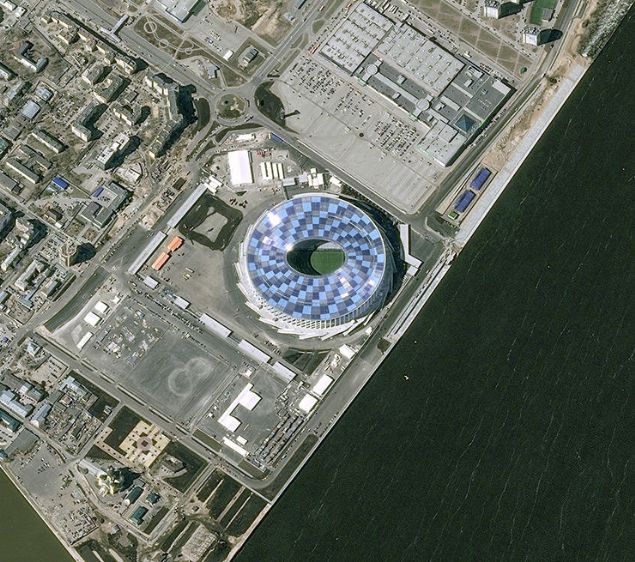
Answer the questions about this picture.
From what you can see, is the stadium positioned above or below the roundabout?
below it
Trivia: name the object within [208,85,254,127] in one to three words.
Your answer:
roundabout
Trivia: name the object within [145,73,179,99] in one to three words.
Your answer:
building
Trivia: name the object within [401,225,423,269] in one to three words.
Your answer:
building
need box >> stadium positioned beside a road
[234,192,398,343]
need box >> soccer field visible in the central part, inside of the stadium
[287,246,345,275]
